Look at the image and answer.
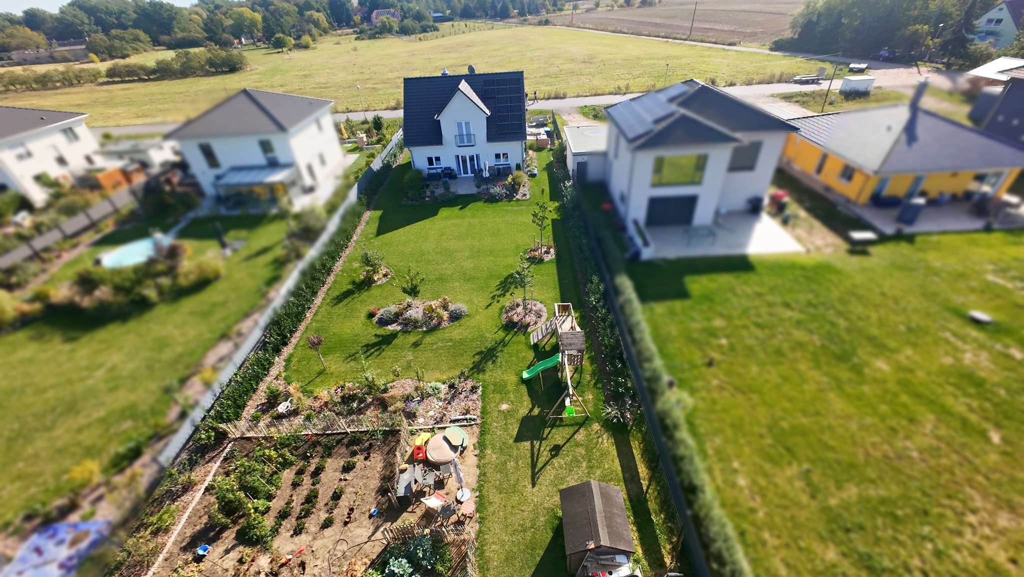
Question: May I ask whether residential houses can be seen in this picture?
Yes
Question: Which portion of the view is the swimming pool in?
left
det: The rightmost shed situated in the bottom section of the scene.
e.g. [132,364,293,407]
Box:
[560,477,635,577]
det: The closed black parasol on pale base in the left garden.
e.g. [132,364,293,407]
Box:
[217,221,233,255]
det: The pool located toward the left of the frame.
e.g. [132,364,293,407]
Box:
[90,231,170,265]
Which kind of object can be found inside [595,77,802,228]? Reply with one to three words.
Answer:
house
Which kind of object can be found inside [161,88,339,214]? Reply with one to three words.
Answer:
house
